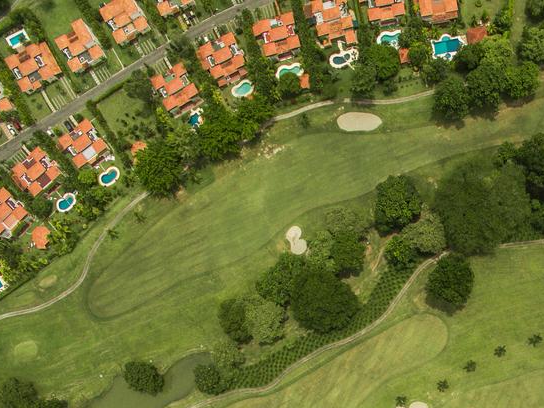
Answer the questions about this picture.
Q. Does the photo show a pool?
Yes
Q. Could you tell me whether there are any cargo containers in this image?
No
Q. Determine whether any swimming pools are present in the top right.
Yes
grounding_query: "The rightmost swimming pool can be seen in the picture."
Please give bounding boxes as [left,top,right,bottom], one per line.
[433,33,464,58]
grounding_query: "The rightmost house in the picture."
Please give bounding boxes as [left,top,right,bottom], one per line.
[421,0,459,28]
